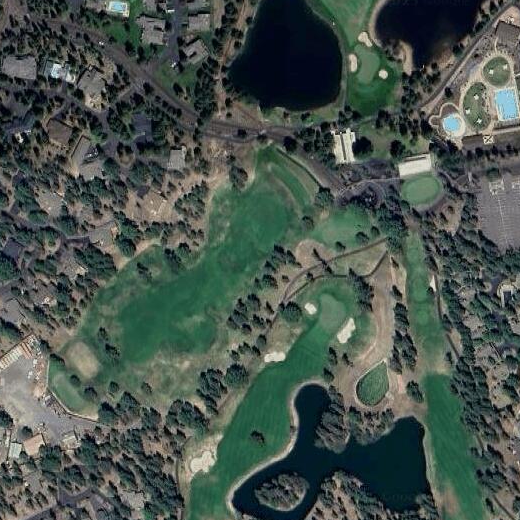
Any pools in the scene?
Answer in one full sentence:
Yes, I can see a pool in this picture.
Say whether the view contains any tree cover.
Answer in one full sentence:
Yes, there is tree cover in the image.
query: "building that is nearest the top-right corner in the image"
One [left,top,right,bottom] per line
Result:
[495,22,520,44]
